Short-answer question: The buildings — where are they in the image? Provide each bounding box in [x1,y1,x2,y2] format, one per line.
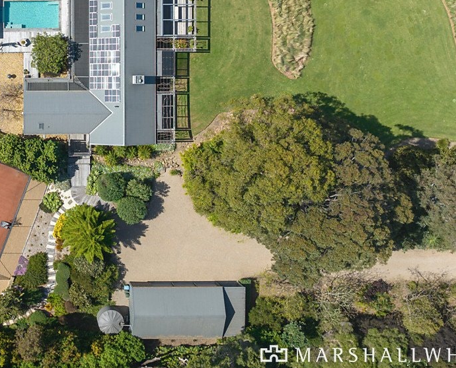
[129,281,246,339]
[24,0,157,157]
